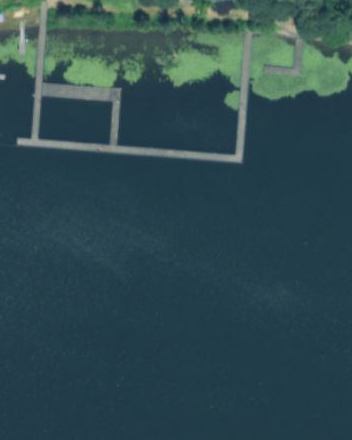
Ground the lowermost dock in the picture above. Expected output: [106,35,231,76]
[16,138,242,162]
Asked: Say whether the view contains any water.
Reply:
Yes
